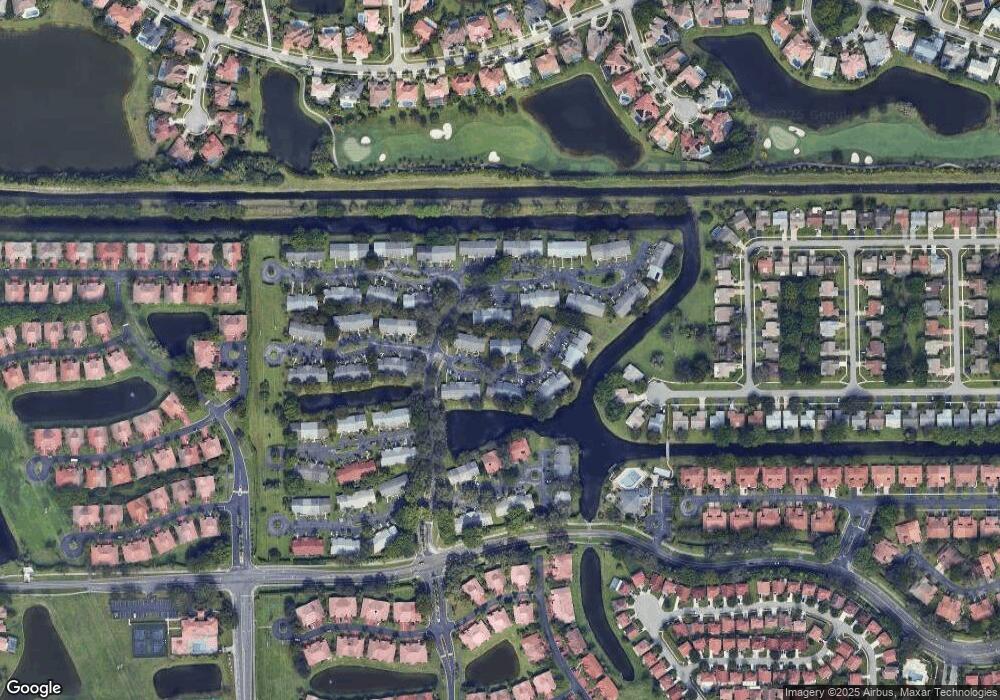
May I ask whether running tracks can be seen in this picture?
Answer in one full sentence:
No, this view has no running track in it.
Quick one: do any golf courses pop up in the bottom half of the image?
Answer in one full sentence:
No, in the bottom half of the image there is no golf course.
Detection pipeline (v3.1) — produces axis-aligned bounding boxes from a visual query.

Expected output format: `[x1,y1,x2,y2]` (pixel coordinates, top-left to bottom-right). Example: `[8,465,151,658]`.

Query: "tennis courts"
[135,630,145,653]
[152,630,162,653]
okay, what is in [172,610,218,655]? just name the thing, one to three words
building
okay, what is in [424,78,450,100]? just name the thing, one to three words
house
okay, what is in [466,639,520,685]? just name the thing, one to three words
pond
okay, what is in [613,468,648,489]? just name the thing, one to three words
swimming pool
